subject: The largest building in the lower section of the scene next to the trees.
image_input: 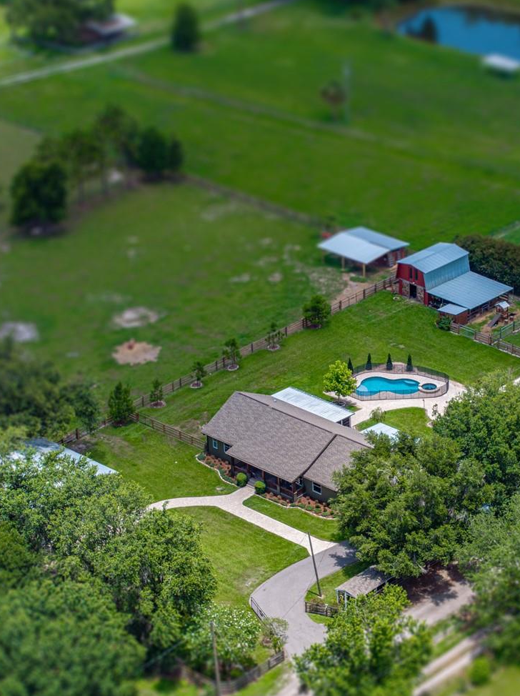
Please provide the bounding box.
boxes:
[202,388,386,513]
